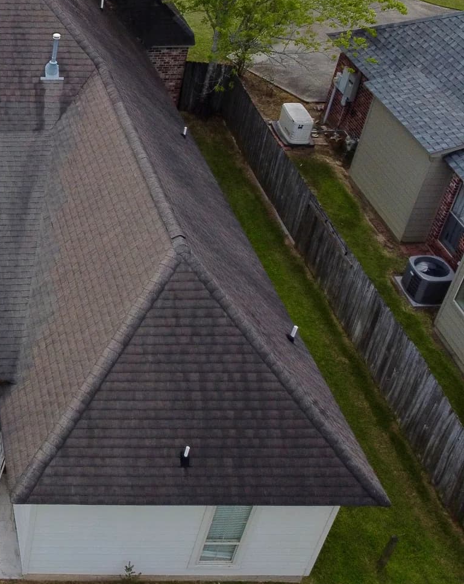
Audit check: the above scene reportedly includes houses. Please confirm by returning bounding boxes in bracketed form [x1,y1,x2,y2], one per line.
[0,0,392,582]
[310,28,464,373]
